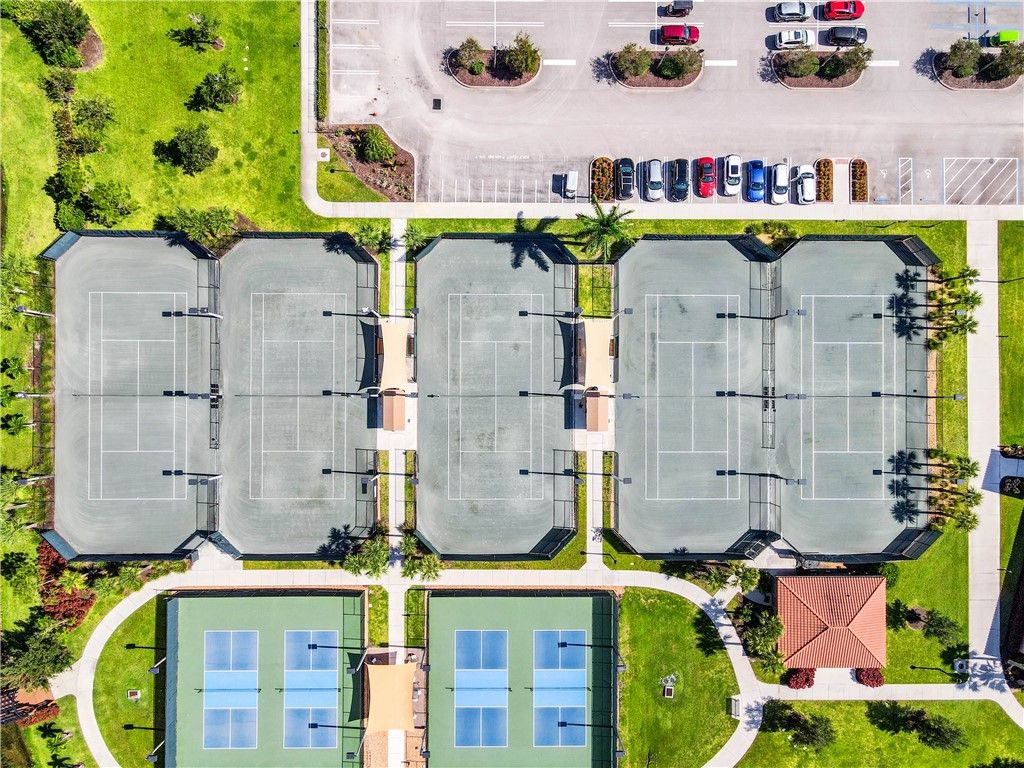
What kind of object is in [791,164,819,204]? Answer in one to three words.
car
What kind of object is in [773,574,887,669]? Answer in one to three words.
building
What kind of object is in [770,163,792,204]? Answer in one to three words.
car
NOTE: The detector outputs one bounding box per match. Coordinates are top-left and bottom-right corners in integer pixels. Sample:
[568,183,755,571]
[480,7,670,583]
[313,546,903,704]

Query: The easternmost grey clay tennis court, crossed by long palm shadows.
[770,241,927,554]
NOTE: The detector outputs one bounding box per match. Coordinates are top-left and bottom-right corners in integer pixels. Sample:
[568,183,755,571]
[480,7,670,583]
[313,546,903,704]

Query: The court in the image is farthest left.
[54,237,219,554]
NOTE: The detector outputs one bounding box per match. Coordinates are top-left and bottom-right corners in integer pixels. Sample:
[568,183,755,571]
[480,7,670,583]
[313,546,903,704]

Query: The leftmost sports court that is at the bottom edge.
[178,597,272,768]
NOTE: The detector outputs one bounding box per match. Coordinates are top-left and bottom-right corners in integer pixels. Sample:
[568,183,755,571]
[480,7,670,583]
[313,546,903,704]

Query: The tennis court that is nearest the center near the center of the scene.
[416,239,577,554]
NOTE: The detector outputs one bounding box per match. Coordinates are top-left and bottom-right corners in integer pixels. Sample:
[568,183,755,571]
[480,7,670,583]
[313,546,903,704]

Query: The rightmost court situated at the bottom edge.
[521,597,612,768]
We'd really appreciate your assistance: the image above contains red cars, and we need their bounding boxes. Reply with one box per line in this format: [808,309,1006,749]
[660,22,698,45]
[824,0,864,20]
[698,157,718,196]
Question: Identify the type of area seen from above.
sports ground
